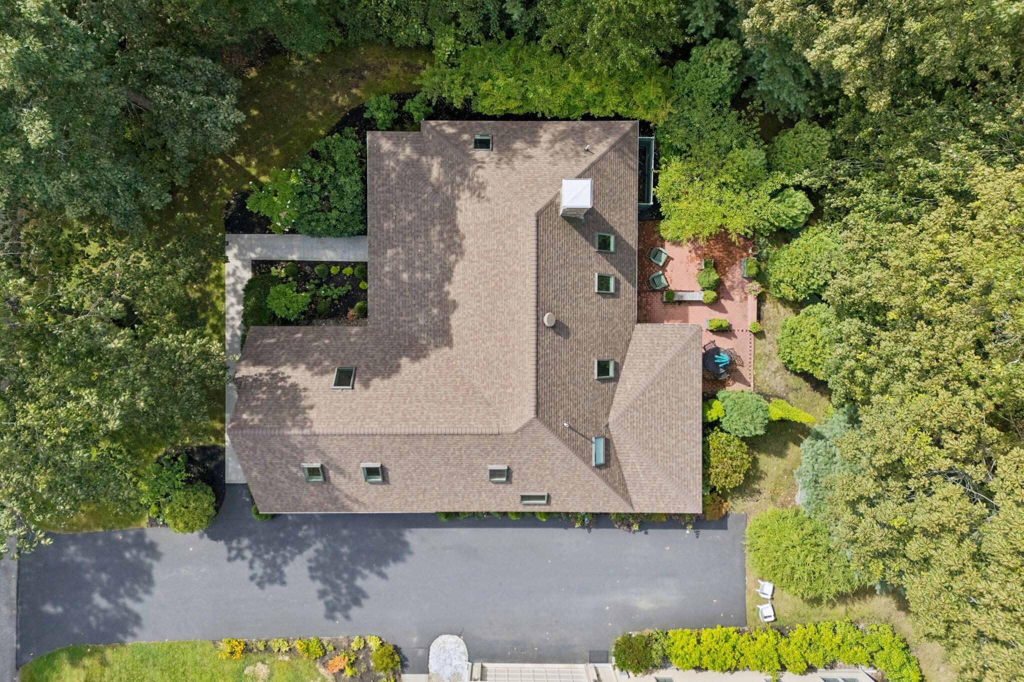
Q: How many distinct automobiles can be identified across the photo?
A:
0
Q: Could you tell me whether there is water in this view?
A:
No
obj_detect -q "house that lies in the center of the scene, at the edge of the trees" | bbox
[228,119,704,515]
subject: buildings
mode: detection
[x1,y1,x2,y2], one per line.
[452,655,877,682]
[228,119,704,515]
